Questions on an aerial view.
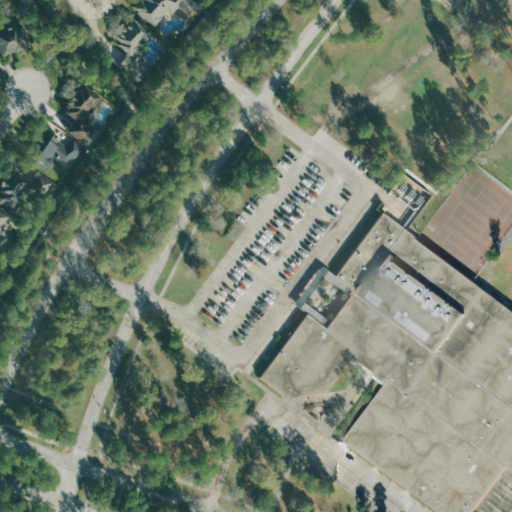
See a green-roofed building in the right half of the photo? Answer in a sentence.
No, the scene shows no green-roofed building in the right half of the photo.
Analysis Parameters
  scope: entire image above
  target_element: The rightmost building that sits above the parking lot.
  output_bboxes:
[132,0,188,28]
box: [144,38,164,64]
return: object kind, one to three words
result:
swimming pool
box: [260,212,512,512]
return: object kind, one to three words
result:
building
